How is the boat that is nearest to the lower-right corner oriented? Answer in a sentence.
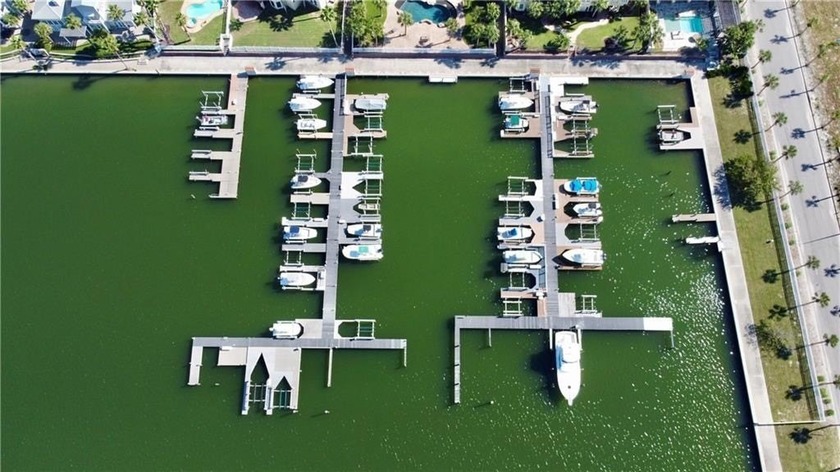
The boat that is nearest to the lower-right corner has been laid out up and down relative to the frame.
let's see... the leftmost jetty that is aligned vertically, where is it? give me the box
[187,76,249,200]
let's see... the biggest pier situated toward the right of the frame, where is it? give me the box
[453,75,676,405]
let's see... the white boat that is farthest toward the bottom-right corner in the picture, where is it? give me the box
[554,332,581,405]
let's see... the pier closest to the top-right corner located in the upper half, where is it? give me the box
[654,107,704,152]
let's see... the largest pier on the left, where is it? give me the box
[187,72,409,415]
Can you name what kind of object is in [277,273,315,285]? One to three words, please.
boat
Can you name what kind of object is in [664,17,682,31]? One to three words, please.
swimming pool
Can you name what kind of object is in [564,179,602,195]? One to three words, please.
boat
